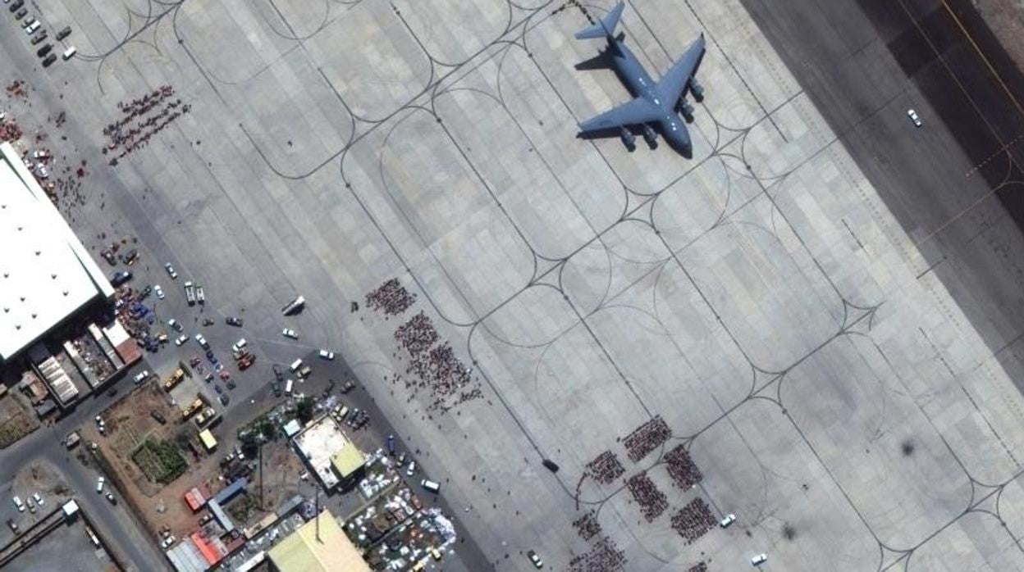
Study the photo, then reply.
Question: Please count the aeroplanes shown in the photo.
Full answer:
The picture shows 1 aeroplane.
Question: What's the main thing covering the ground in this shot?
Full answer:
What you mostly see from above here is paved ground.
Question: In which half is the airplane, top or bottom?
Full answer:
Seen from above, the airplane lies in the top half of the view.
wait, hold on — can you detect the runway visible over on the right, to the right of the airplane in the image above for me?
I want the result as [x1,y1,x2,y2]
[856,0,1024,236]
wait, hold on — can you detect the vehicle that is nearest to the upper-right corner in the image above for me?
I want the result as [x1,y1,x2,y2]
[907,110,922,126]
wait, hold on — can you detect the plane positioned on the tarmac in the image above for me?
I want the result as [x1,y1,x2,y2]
[571,2,704,157]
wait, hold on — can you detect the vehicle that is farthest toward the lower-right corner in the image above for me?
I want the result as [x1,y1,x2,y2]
[750,554,767,566]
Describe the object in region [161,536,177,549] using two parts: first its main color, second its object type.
white vehicle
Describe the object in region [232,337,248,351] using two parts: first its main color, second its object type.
white vehicle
